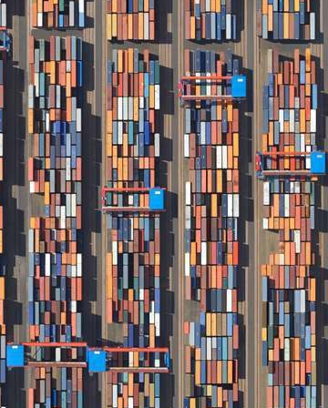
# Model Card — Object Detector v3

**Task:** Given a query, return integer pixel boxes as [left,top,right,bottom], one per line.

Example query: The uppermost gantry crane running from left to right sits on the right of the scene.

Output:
[174,74,250,106]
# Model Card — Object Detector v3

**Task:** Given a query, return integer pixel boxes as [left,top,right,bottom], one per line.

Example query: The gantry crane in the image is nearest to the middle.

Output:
[97,184,170,216]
